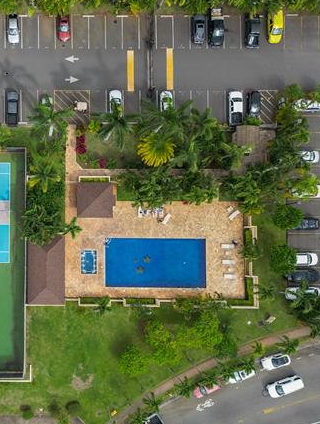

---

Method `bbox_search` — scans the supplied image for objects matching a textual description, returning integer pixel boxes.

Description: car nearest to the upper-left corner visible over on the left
[5,13,19,44]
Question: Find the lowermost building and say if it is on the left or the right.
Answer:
left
